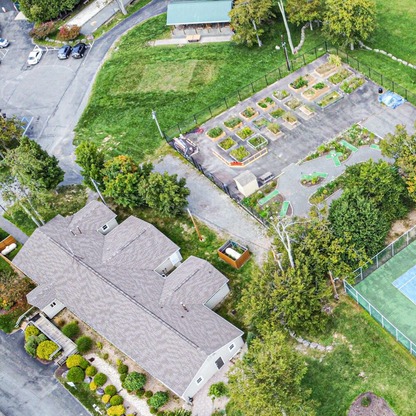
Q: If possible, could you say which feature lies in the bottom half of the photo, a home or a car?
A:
home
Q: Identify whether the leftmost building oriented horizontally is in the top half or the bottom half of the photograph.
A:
top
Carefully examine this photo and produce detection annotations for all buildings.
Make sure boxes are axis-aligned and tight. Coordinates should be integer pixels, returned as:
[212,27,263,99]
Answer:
[167,0,239,33]
[231,171,258,196]
[11,201,246,403]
